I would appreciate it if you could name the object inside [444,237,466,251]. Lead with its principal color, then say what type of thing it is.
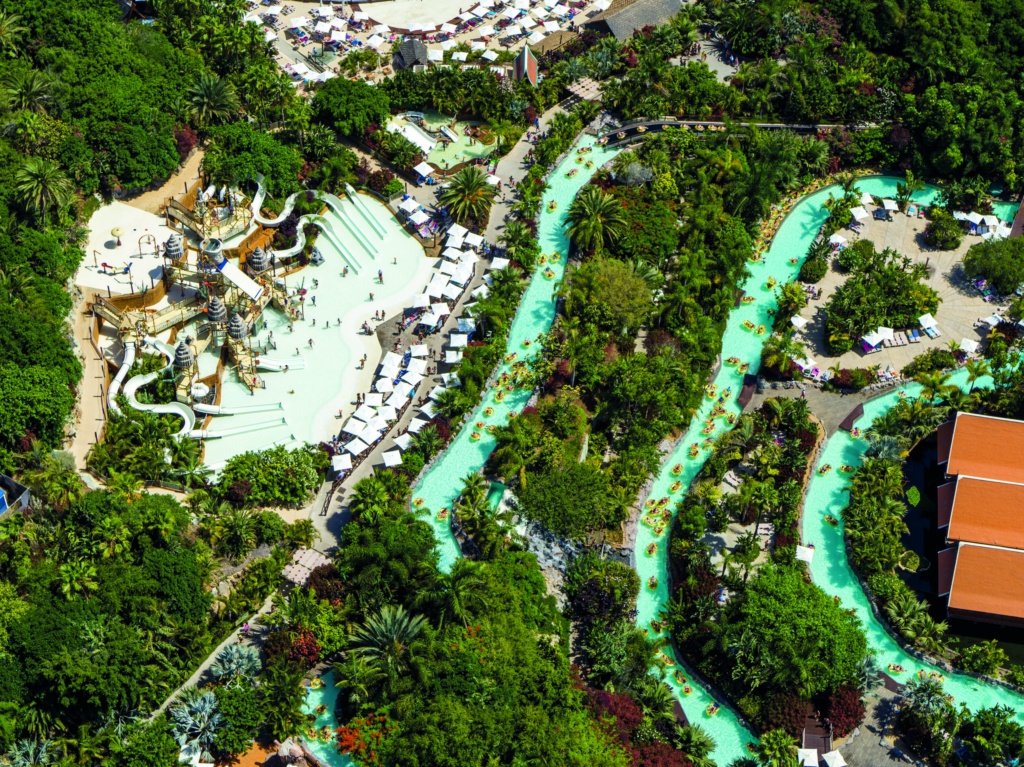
white umbrella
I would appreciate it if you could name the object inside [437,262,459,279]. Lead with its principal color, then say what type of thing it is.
white umbrella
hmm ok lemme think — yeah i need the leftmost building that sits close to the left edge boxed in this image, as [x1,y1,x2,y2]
[0,476,30,527]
